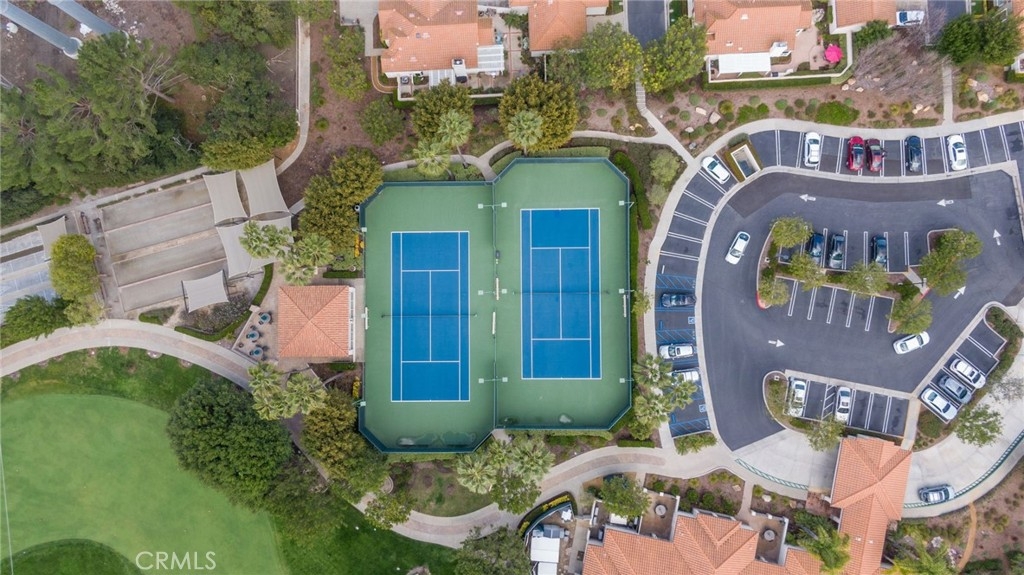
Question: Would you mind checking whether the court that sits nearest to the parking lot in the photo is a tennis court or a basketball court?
tennis court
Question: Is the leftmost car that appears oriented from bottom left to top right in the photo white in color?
Yes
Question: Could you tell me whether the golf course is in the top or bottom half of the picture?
bottom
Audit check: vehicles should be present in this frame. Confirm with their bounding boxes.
[659,344,694,360]
[805,232,823,266]
[947,357,985,387]
[660,291,695,307]
[833,386,851,422]
[827,233,846,268]
[788,379,805,415]
[903,136,922,172]
[802,132,821,167]
[865,139,887,172]
[870,235,890,266]
[665,368,702,384]
[916,485,954,502]
[945,135,965,171]
[699,156,731,185]
[919,389,955,419]
[723,230,751,265]
[936,374,973,402]
[896,8,932,27]
[891,332,929,355]
[846,137,865,172]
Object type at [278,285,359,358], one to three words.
building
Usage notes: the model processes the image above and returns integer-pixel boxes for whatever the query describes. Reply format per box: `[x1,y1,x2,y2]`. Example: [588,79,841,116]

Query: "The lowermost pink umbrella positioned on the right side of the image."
[824,45,841,62]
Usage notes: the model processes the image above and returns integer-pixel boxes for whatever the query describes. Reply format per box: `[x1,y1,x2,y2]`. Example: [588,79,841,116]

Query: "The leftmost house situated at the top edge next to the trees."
[378,0,505,89]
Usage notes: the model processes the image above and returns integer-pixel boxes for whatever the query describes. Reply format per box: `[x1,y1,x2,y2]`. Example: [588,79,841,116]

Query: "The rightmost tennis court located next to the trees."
[494,163,627,427]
